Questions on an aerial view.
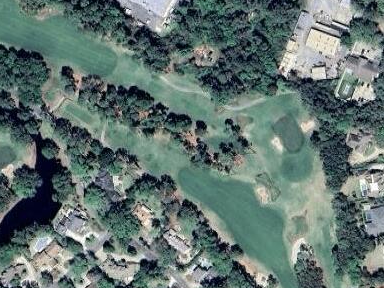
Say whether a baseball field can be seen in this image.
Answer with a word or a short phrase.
No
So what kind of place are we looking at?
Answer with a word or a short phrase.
golf course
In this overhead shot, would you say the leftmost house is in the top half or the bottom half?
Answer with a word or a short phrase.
bottom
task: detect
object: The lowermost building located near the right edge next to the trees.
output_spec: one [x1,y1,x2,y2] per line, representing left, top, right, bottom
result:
[361,204,384,236]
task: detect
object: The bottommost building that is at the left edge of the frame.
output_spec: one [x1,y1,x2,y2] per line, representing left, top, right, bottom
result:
[0,262,26,288]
